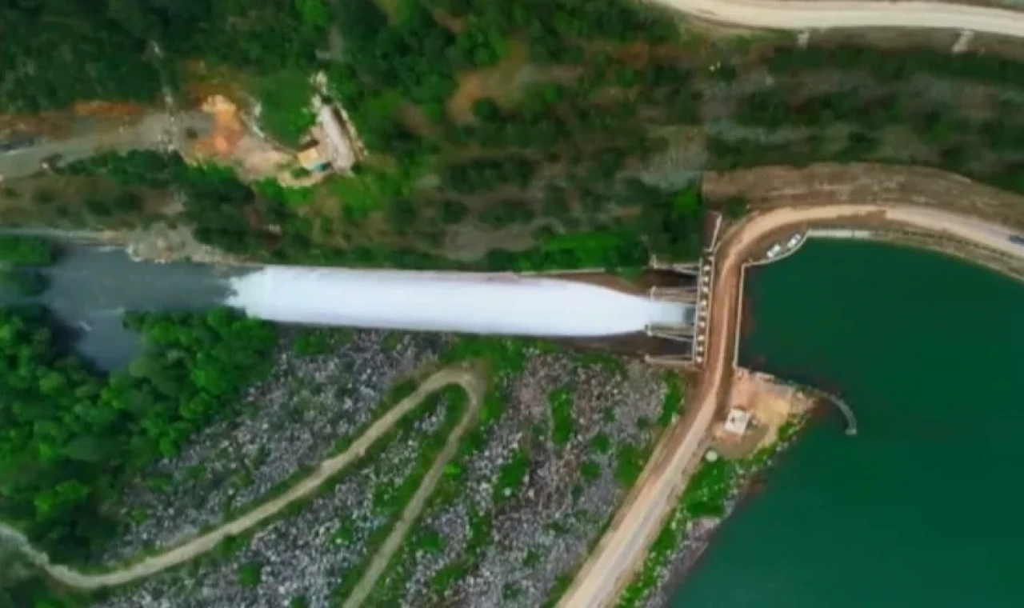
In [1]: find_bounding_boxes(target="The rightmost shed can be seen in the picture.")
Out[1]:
[723,408,751,436]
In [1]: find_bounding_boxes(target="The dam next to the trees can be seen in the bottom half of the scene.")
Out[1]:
[86,213,871,608]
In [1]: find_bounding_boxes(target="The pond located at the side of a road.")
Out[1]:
[671,238,1024,608]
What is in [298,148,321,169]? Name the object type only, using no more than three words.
building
